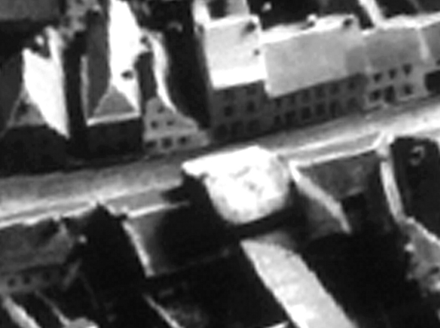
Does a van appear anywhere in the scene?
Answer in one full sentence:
No, the photo shows no van.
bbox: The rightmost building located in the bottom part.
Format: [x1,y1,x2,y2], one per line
[385,139,440,261]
